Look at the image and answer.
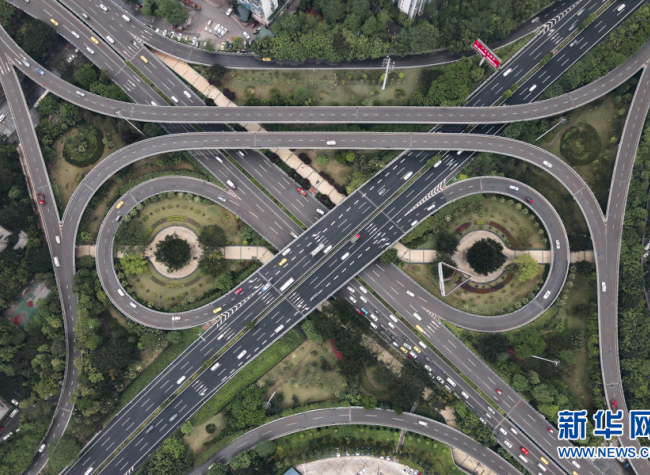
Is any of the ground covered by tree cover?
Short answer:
Yes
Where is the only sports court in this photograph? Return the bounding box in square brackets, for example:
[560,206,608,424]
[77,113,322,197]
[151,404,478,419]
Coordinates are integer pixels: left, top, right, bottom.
[3,280,48,328]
